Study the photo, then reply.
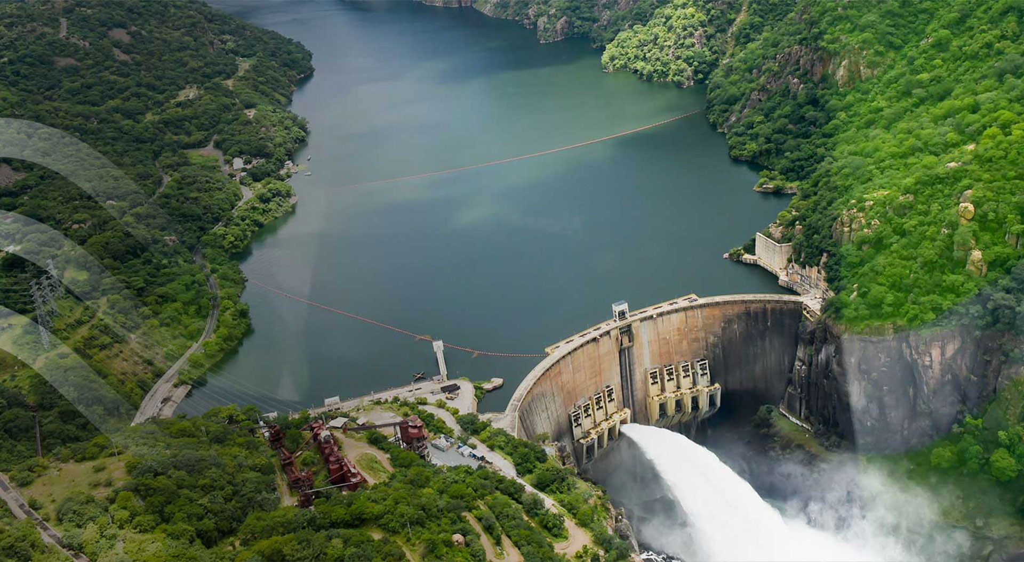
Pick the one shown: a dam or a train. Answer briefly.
dam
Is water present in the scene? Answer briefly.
Yes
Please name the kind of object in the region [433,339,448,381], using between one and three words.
pier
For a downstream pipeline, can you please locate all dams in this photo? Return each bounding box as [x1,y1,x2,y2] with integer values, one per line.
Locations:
[499,293,808,485]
